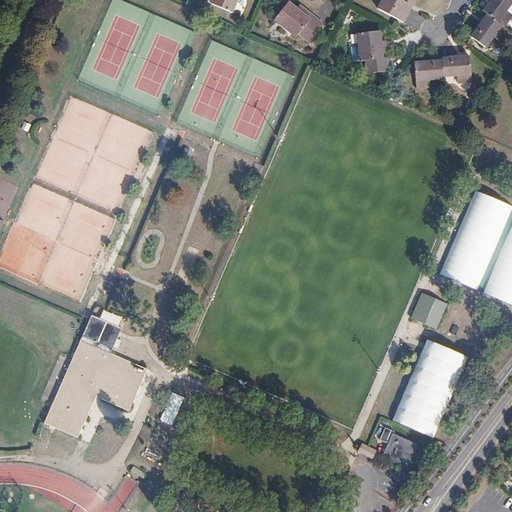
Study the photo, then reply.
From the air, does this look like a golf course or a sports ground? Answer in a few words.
sports ground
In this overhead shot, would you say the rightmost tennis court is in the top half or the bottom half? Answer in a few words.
top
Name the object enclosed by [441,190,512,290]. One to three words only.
building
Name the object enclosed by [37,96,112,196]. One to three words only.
tennis court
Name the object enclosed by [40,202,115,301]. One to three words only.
tennis court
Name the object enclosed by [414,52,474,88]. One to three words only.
house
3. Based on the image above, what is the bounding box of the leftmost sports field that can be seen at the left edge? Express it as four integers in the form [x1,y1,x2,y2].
[0,317,39,442]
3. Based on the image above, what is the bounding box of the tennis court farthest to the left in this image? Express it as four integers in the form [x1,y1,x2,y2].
[0,184,74,284]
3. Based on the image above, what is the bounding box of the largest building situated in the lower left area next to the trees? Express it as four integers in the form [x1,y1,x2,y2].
[44,310,146,438]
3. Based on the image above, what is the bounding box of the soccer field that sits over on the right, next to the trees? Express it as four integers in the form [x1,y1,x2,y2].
[196,67,456,430]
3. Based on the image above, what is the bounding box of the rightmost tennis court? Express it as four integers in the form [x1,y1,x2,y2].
[219,58,294,158]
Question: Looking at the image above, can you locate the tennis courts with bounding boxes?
[118,14,194,114]
[219,58,294,158]
[0,184,74,284]
[78,0,153,97]
[40,202,115,301]
[178,40,253,140]
[37,96,112,196]
[78,114,153,214]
